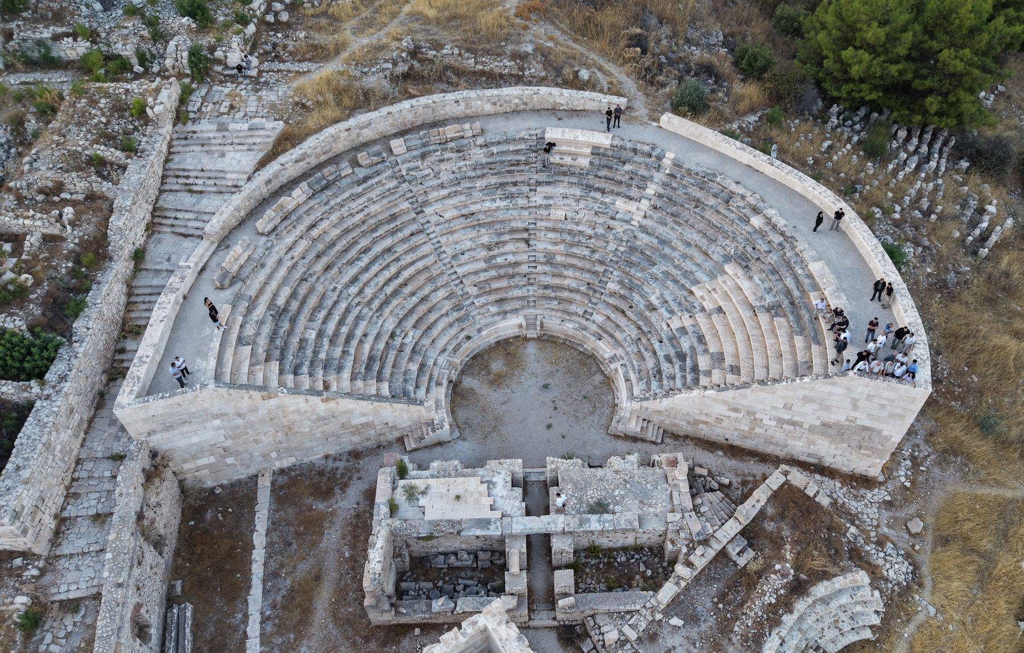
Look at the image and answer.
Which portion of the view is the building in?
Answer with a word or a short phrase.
bottom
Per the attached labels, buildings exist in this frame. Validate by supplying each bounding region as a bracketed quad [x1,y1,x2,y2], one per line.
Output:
[363,452,691,628]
